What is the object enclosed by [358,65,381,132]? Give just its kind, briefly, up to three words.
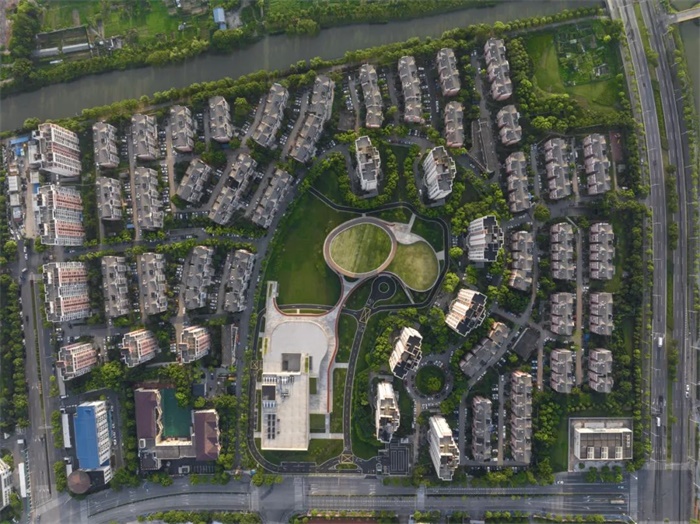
building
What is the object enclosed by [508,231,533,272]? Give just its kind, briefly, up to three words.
building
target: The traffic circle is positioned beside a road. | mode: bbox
[407,357,453,402]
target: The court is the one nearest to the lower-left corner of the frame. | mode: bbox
[162,386,193,437]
